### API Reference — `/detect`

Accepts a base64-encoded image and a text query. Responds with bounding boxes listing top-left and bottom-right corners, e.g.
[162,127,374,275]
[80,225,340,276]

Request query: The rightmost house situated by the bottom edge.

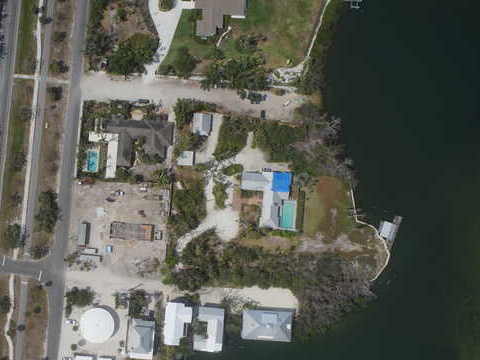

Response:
[240,309,292,343]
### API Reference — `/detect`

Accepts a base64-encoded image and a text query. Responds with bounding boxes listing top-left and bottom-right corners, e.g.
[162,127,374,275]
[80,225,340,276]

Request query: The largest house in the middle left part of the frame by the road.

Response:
[88,118,174,178]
